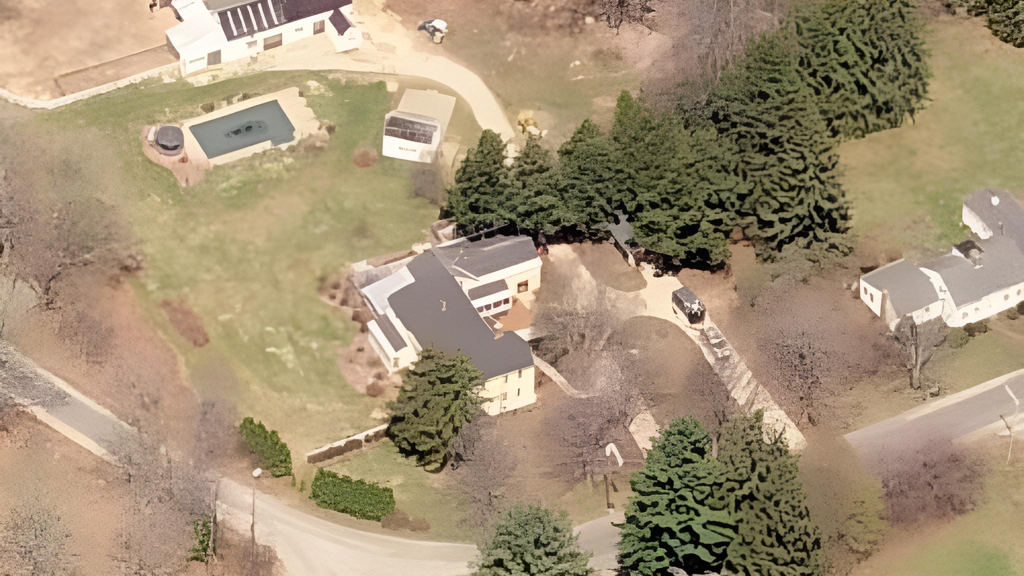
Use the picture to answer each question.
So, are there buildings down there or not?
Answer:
Yes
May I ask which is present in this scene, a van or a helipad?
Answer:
van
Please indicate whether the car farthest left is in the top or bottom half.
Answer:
top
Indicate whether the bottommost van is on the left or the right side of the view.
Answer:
right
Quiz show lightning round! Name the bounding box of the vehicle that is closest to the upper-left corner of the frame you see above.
[426,14,446,44]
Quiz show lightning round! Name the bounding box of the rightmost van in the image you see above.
[670,282,709,330]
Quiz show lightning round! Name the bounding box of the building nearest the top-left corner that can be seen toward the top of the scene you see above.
[167,0,361,78]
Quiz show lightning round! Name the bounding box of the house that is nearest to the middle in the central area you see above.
[359,217,544,424]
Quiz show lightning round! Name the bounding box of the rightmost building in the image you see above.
[859,174,1024,337]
